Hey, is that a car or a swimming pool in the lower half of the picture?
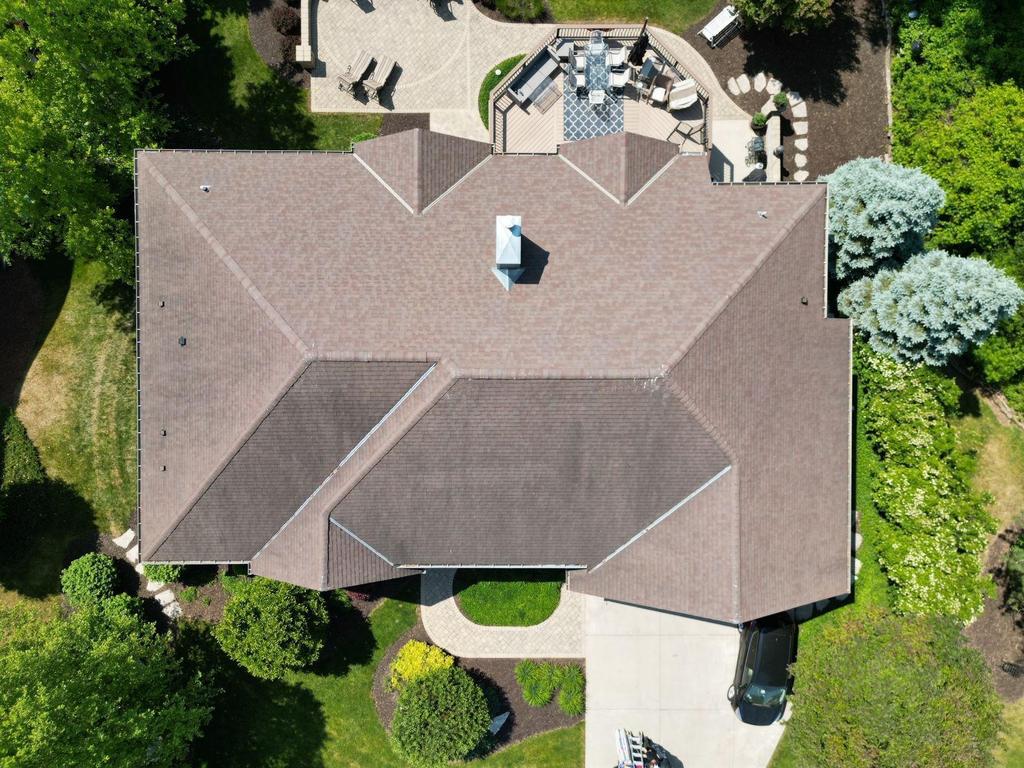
car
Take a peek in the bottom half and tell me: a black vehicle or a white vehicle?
black vehicle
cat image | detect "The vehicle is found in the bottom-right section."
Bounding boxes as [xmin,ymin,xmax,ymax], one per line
[728,610,794,727]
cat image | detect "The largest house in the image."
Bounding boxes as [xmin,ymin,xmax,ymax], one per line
[134,127,856,623]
